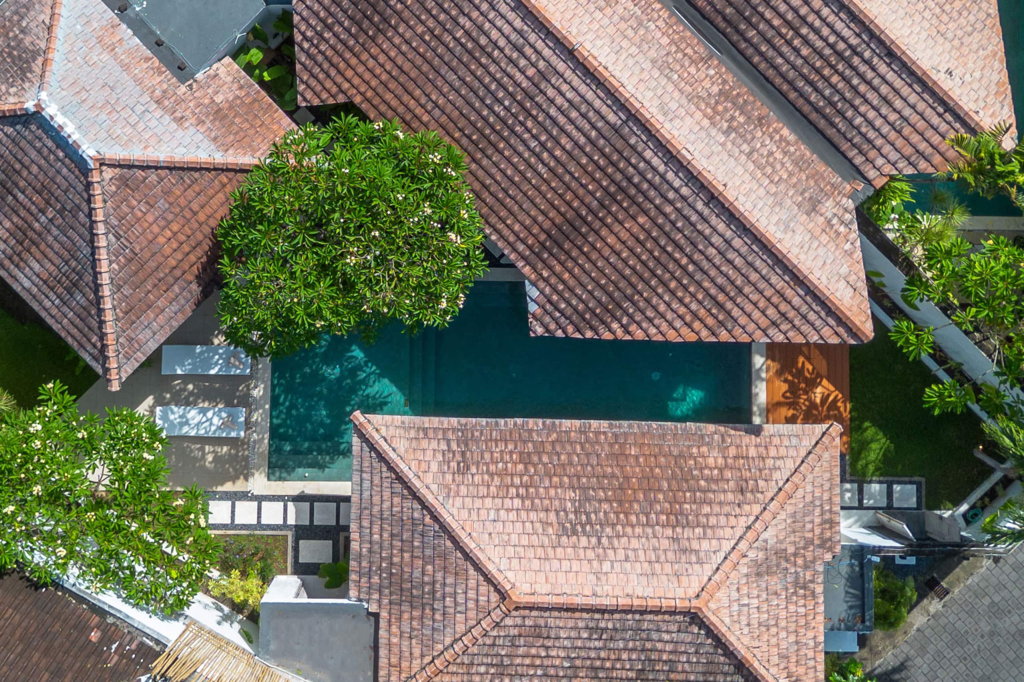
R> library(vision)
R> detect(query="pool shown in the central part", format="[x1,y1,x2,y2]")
[271,281,752,481]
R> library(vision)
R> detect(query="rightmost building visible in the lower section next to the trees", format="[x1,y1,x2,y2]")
[344,405,849,682]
